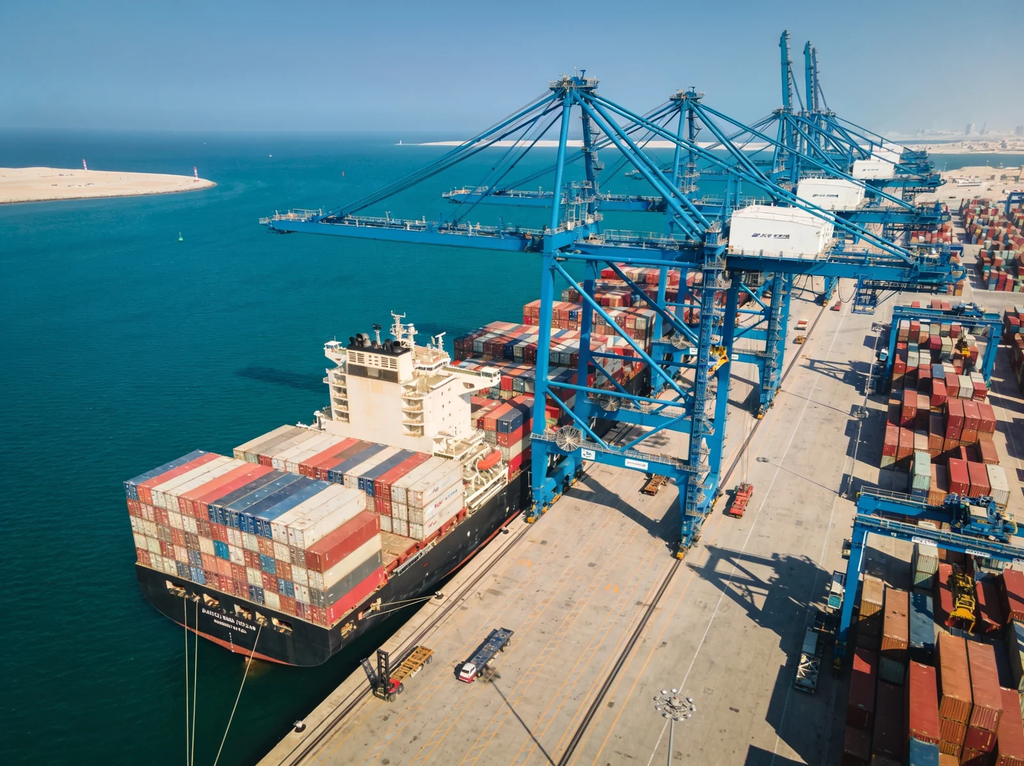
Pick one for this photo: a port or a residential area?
port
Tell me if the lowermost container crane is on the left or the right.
right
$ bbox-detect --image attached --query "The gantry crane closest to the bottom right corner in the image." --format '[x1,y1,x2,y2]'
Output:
[828,476,1024,676]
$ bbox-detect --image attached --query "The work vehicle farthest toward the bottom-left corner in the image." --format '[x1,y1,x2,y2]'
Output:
[364,652,408,705]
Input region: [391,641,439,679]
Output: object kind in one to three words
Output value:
trailer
